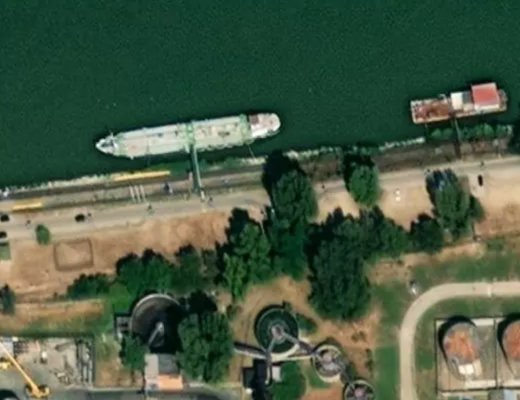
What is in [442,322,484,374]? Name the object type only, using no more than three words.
storage tank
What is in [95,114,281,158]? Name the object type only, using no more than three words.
ship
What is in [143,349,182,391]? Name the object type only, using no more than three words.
building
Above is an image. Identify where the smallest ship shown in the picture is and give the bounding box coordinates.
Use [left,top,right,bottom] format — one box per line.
[411,89,506,123]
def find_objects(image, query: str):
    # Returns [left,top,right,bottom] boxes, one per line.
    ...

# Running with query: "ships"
[95,114,281,158]
[411,89,506,123]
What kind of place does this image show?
industrial area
